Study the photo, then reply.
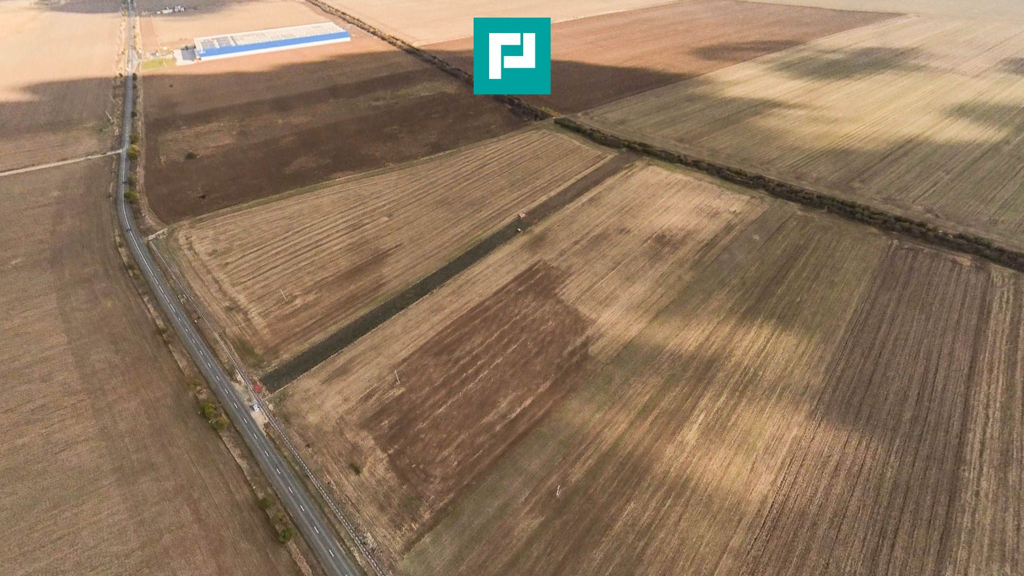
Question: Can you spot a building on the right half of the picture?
No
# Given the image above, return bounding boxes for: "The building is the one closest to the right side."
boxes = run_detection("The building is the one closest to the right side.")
[193,22,350,60]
